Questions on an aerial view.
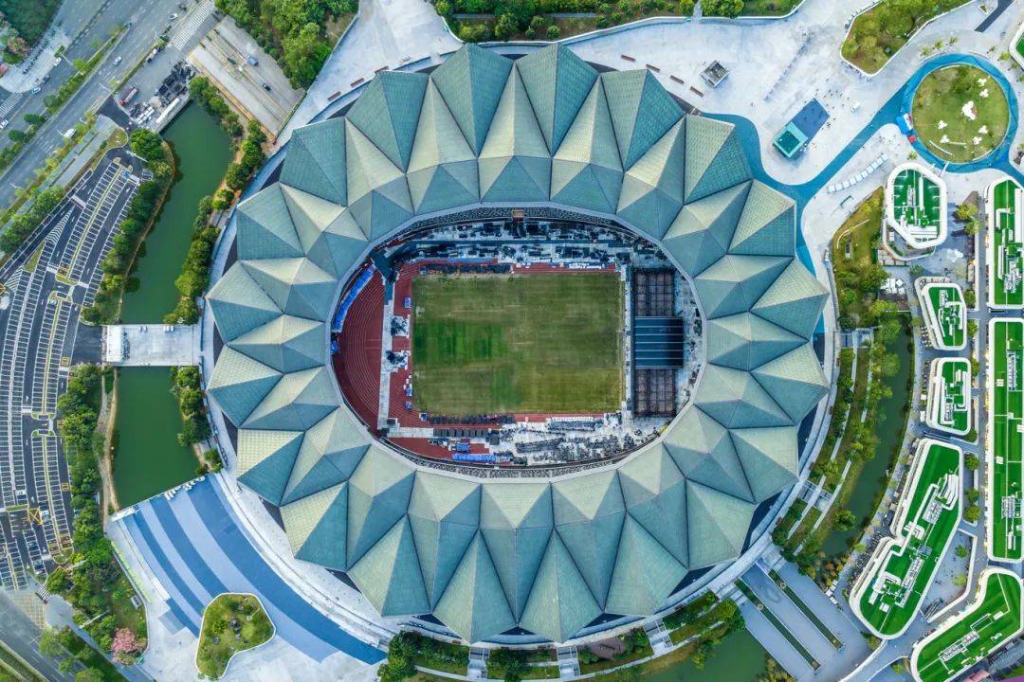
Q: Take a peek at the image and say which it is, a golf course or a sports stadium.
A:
sports stadium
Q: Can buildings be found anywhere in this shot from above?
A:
Yes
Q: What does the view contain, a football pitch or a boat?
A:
football pitch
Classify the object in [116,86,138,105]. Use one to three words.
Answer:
vehicle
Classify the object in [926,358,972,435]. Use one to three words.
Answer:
building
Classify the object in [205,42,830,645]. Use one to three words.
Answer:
stadium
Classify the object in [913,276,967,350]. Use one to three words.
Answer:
building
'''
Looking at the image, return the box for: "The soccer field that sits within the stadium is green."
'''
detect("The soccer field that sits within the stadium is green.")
[412,273,623,415]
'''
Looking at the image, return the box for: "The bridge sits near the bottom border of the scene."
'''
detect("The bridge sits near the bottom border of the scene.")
[720,554,876,682]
